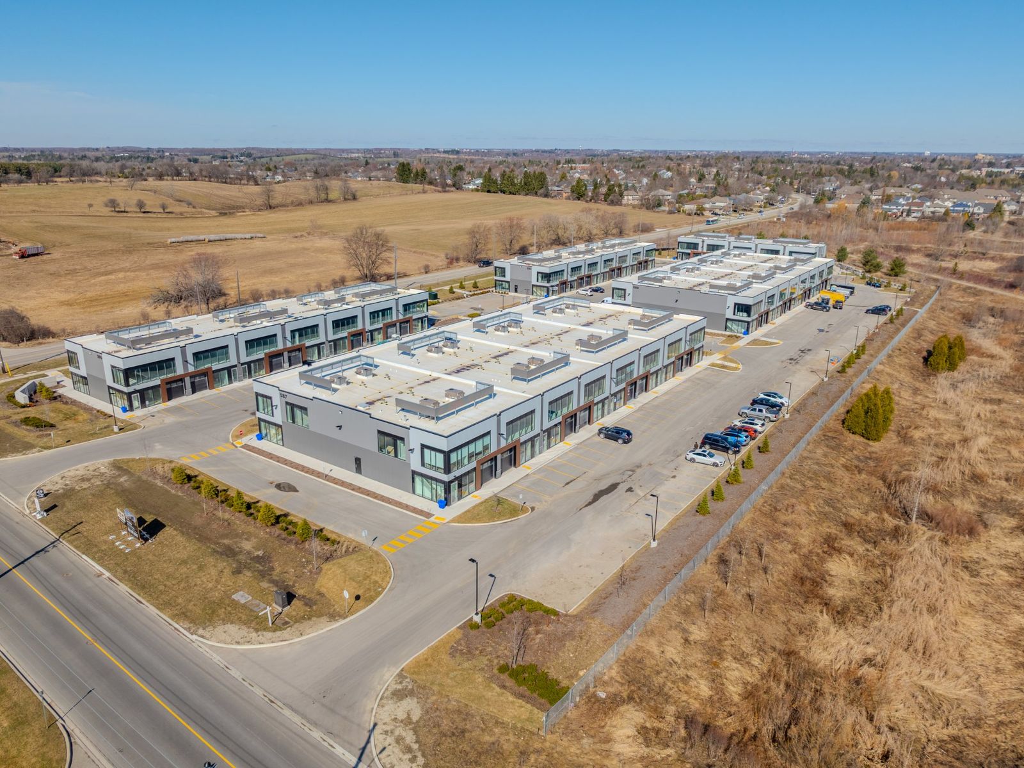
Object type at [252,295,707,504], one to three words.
building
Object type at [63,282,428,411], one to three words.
building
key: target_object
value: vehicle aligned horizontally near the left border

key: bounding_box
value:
[12,243,45,258]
